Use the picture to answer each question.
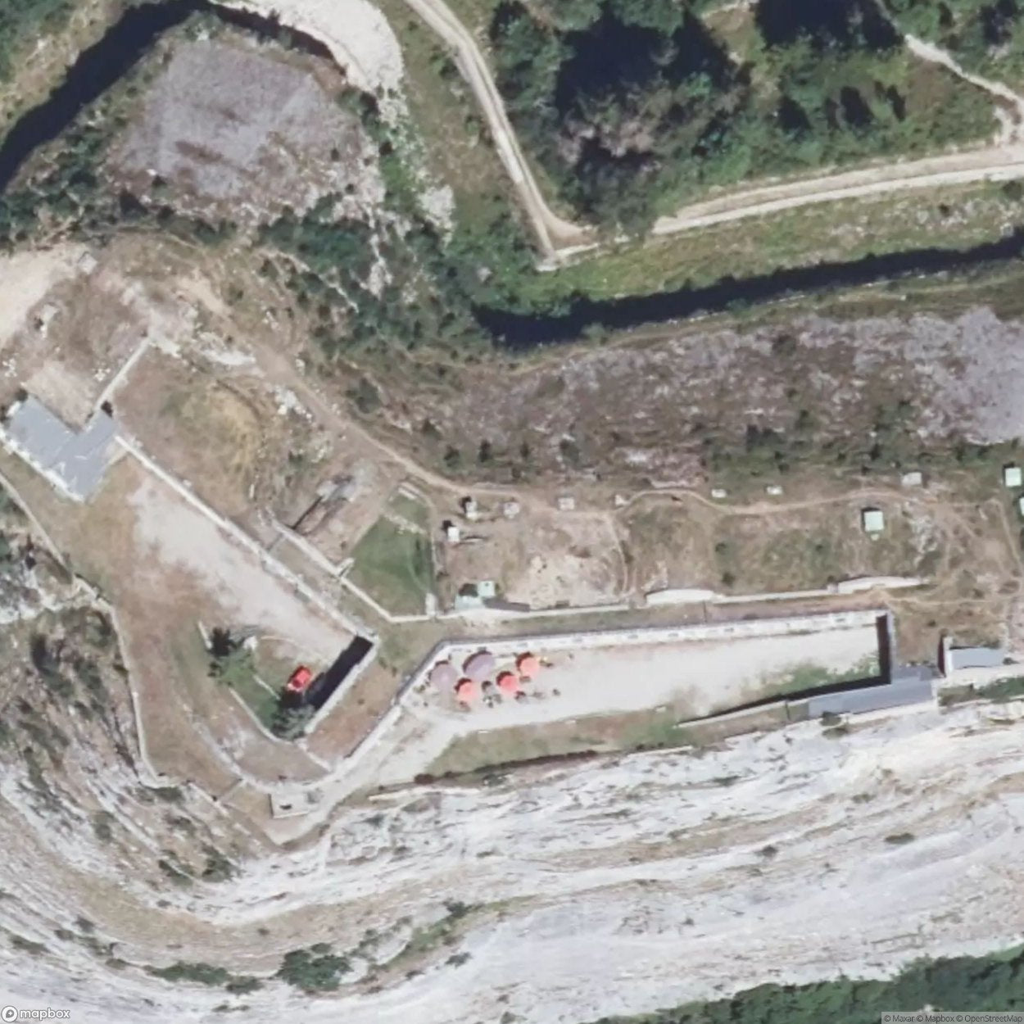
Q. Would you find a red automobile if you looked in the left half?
Yes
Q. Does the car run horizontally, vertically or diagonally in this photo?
diagonally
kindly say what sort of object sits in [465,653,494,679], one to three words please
umbrella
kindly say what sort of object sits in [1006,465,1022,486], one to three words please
shed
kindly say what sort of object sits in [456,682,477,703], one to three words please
umbrella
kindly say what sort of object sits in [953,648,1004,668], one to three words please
house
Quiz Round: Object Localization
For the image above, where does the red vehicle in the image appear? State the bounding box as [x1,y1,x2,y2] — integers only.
[286,665,310,693]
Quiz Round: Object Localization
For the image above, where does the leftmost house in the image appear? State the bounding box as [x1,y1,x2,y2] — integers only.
[8,394,80,470]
